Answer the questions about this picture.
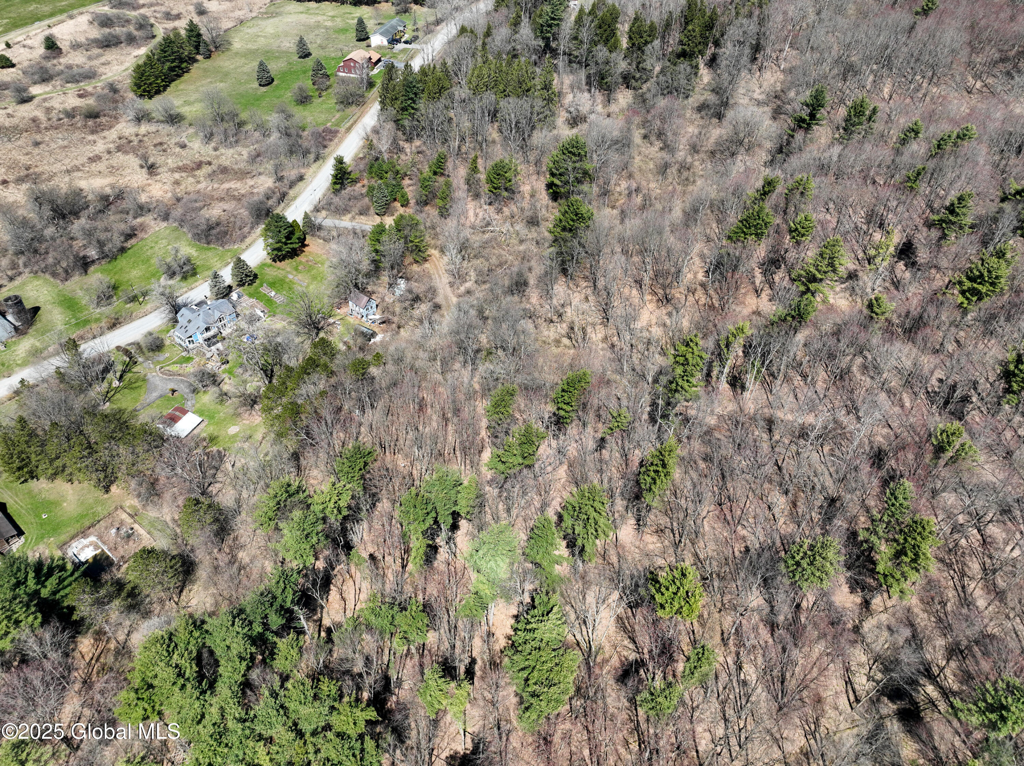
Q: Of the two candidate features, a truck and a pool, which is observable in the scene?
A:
pool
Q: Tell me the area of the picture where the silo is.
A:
left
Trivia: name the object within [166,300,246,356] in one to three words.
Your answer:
house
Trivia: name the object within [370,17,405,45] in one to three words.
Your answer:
house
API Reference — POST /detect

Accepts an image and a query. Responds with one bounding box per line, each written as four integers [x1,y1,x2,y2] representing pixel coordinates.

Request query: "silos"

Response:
[0,293,33,332]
